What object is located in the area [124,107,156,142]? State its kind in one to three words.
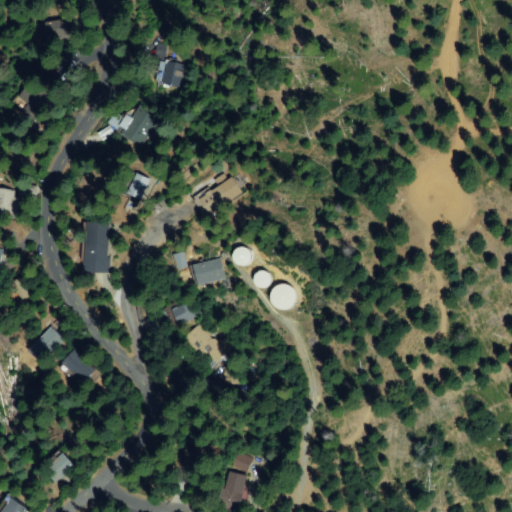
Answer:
house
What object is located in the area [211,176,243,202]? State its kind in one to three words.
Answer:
house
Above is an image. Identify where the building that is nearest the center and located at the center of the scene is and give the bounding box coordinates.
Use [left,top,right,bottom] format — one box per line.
[194,258,226,285]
